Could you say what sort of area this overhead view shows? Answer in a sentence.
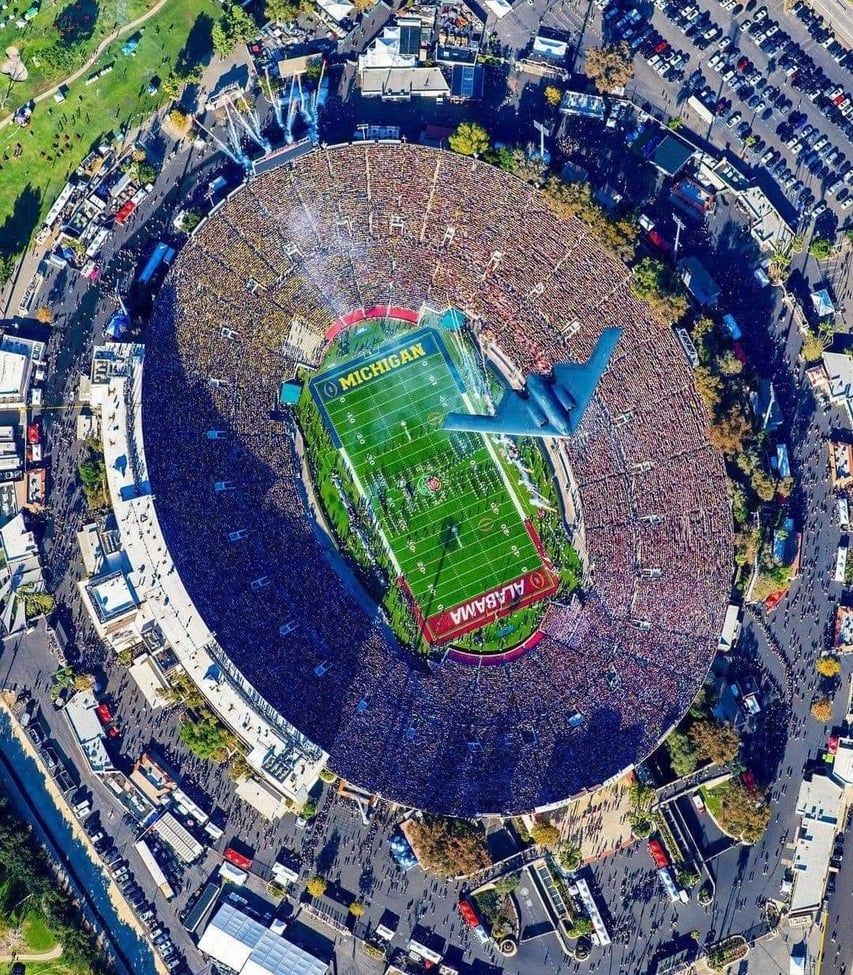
The picture captures a sports ground.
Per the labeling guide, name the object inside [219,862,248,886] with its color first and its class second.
white tent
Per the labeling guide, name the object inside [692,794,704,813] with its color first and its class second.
white vehicle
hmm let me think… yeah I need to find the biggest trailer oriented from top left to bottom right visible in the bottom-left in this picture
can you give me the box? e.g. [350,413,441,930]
[135,841,175,900]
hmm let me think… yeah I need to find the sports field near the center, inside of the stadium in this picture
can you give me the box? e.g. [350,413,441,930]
[308,327,560,646]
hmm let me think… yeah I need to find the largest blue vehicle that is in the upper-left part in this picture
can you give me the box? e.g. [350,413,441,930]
[139,243,169,286]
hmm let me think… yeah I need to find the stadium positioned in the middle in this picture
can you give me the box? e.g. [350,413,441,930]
[91,139,734,822]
